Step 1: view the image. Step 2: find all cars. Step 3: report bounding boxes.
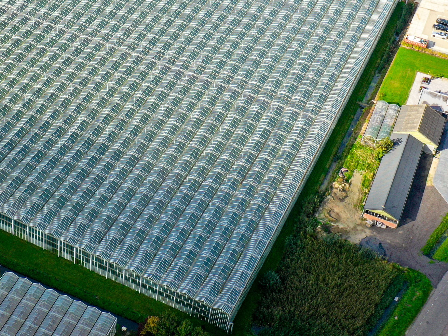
[436,17,448,27]
[433,32,448,40]
[433,24,448,33]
